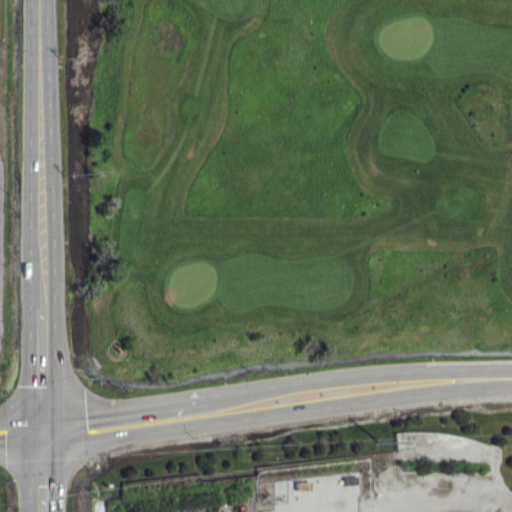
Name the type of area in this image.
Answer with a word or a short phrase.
golf course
